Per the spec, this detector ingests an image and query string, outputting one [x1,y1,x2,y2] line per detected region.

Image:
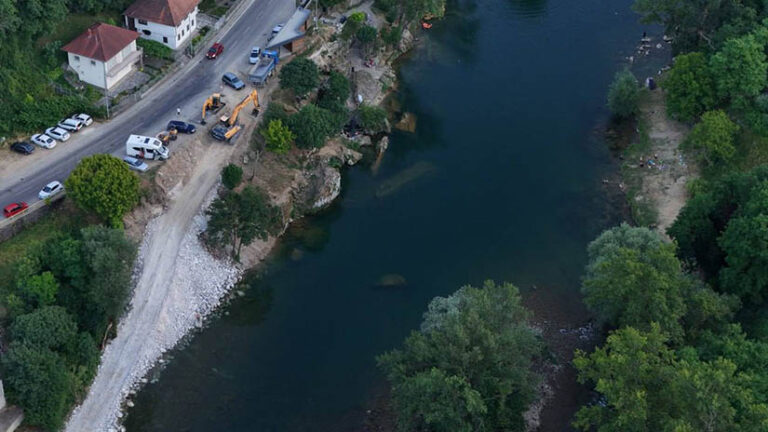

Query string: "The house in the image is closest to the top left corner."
[59,21,150,87]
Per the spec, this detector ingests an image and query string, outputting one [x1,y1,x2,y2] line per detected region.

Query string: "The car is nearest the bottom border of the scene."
[0,195,32,215]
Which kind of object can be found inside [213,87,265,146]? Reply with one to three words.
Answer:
work vehicle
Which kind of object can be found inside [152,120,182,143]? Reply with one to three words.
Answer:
truck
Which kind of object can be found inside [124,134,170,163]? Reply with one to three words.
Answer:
van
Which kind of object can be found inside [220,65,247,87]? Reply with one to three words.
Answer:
car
